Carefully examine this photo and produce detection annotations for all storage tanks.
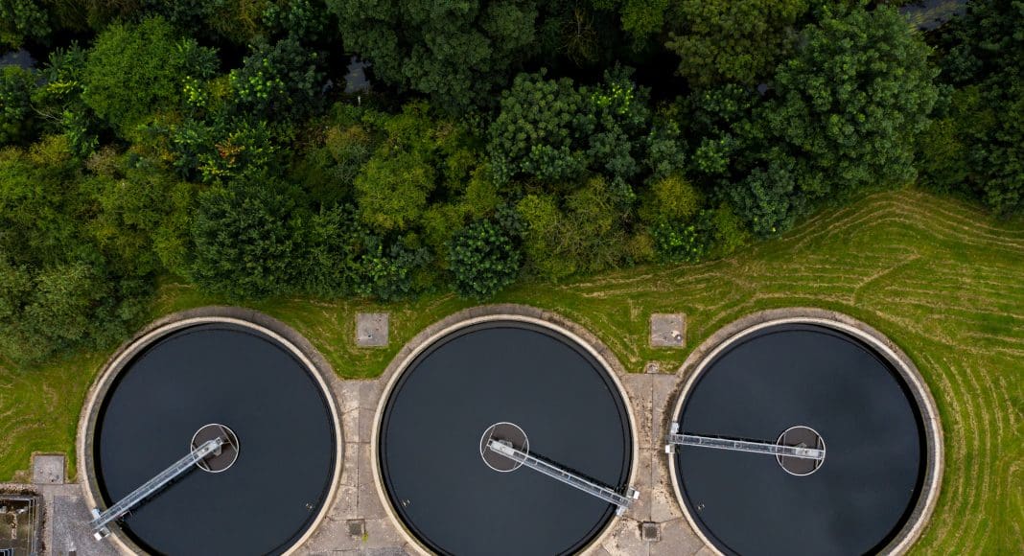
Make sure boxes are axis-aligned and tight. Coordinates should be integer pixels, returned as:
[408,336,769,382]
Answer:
[669,318,940,556]
[79,319,343,556]
[372,317,639,556]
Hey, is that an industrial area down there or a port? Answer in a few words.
industrial area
